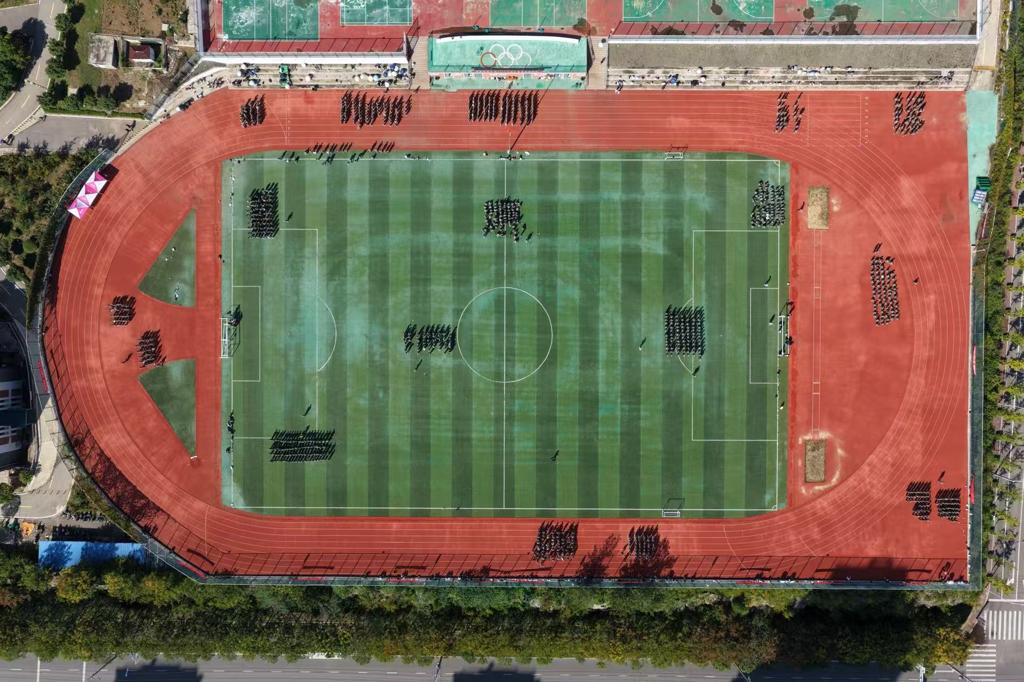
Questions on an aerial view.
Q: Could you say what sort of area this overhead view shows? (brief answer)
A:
sports ground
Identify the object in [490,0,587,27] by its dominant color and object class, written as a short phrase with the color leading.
green sports court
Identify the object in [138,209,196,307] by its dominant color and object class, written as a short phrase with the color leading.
green sports field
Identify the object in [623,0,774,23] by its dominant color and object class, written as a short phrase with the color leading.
green basketball court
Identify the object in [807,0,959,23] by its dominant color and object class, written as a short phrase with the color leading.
green basketball court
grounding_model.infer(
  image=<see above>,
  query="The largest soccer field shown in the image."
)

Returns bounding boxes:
[221,151,789,518]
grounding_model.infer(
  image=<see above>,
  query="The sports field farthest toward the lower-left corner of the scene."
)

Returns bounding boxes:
[138,358,195,457]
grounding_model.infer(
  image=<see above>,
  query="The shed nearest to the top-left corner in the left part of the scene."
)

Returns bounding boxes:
[89,35,119,69]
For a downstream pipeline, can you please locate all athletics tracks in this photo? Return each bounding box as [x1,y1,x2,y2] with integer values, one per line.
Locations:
[42,89,970,582]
